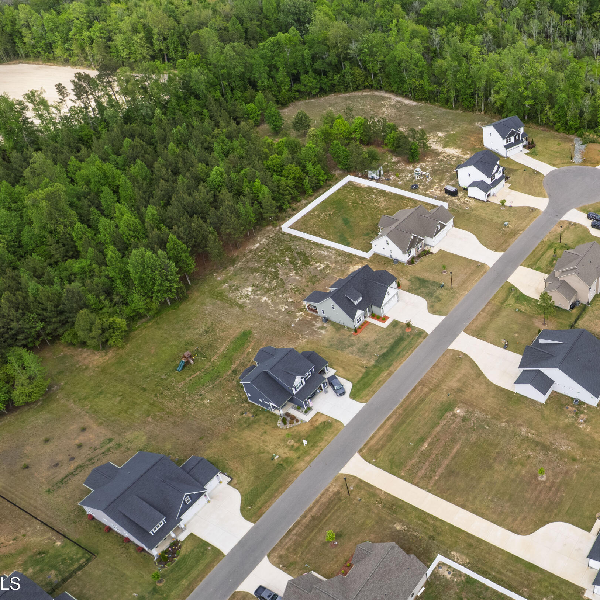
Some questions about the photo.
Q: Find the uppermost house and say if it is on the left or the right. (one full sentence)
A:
You can find the uppermost house on the right side of the picture.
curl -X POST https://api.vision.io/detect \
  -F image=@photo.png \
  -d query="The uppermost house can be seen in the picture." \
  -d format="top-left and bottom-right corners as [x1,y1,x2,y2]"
[481,115,531,159]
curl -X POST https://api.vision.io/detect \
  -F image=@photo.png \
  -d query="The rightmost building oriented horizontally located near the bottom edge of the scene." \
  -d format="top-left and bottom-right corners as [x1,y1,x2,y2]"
[282,539,431,600]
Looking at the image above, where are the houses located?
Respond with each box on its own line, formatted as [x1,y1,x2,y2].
[78,451,224,557]
[282,539,431,600]
[0,571,78,600]
[481,115,531,159]
[304,265,400,329]
[514,328,600,408]
[371,204,455,264]
[450,150,511,202]
[544,241,600,310]
[239,346,329,416]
